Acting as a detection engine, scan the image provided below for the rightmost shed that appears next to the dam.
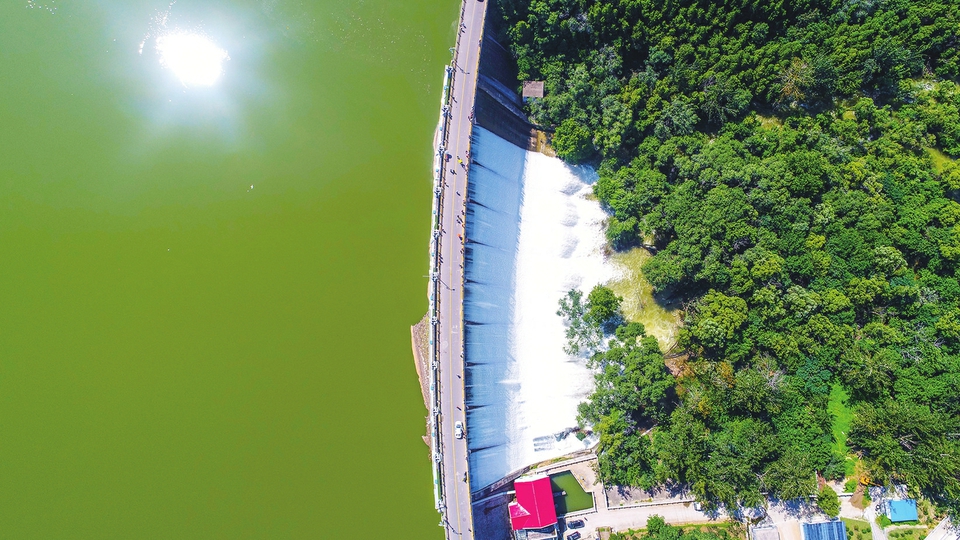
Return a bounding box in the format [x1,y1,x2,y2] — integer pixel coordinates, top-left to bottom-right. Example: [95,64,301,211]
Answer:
[522,81,544,101]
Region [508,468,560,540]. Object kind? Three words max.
building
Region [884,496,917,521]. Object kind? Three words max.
shed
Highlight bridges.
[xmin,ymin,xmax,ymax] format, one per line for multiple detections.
[438,0,488,540]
